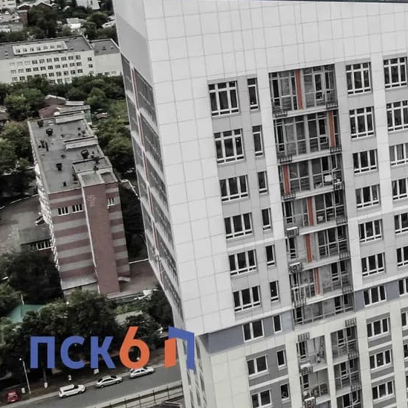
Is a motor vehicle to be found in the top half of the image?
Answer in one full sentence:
No, there's no motor vehicle to be seen in the top half of the image.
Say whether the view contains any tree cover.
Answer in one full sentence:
Yes, tree cover shows up in the scene.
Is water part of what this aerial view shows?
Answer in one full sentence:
No, no water is visible.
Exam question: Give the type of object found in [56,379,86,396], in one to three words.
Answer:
vehicle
